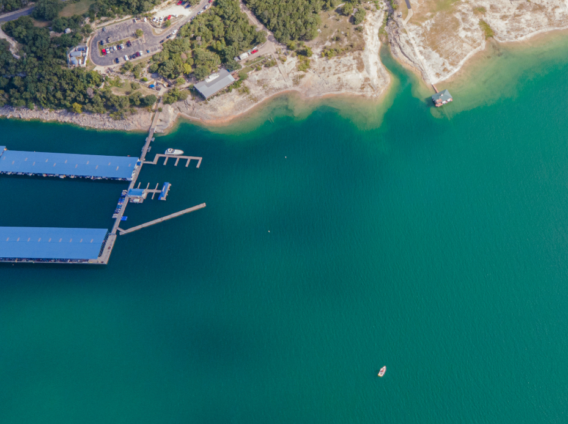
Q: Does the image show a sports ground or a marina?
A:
marina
